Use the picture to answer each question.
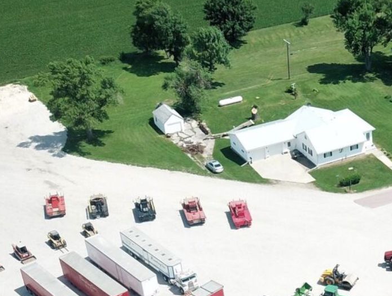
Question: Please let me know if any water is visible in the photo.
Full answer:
No, water can't be seen anywhere here.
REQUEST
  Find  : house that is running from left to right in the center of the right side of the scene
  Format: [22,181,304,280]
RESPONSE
[224,100,379,168]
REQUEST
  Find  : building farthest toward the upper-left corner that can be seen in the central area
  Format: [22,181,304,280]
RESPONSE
[152,103,183,135]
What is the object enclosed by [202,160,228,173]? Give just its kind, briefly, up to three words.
vehicle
